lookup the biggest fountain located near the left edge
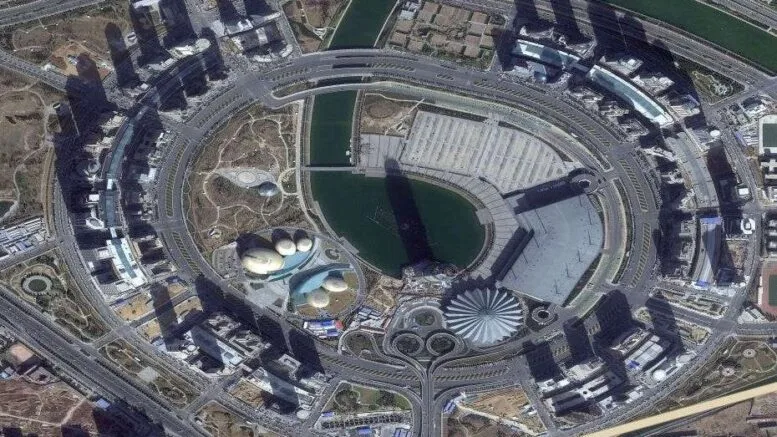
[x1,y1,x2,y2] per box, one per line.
[27,278,47,291]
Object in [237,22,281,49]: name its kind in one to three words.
building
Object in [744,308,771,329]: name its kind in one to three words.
building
